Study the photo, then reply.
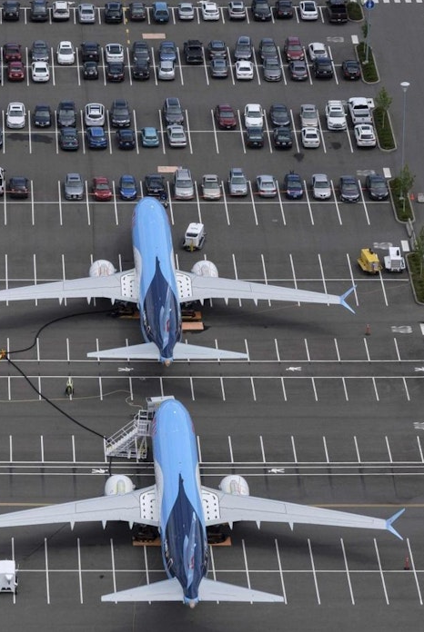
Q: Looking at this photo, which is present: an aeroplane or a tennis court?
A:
aeroplane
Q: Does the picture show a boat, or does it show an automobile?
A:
automobile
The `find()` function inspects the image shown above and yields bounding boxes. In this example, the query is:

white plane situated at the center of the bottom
[0,399,406,613]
